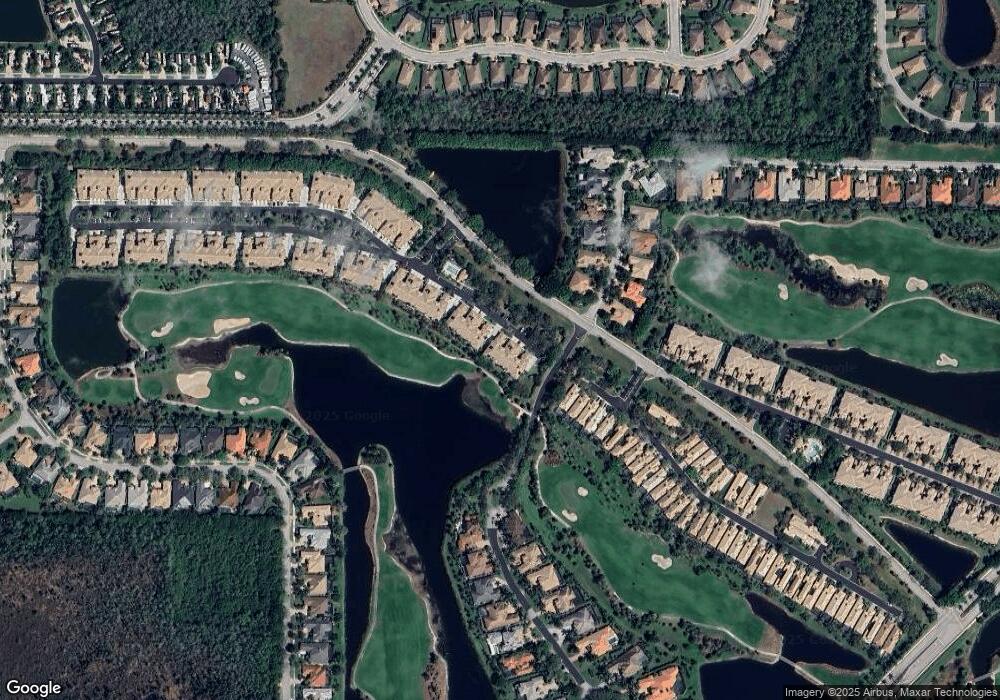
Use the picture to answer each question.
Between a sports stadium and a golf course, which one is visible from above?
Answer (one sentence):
Visible in the photo is a golf course.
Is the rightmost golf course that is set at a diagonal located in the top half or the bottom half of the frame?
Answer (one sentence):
The rightmost golf course that is set at a diagonal is in the bottom half of the image.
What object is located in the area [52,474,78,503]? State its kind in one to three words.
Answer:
house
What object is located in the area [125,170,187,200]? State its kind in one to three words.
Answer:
building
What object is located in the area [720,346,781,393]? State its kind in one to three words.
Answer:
building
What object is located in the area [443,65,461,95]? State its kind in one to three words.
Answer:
house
